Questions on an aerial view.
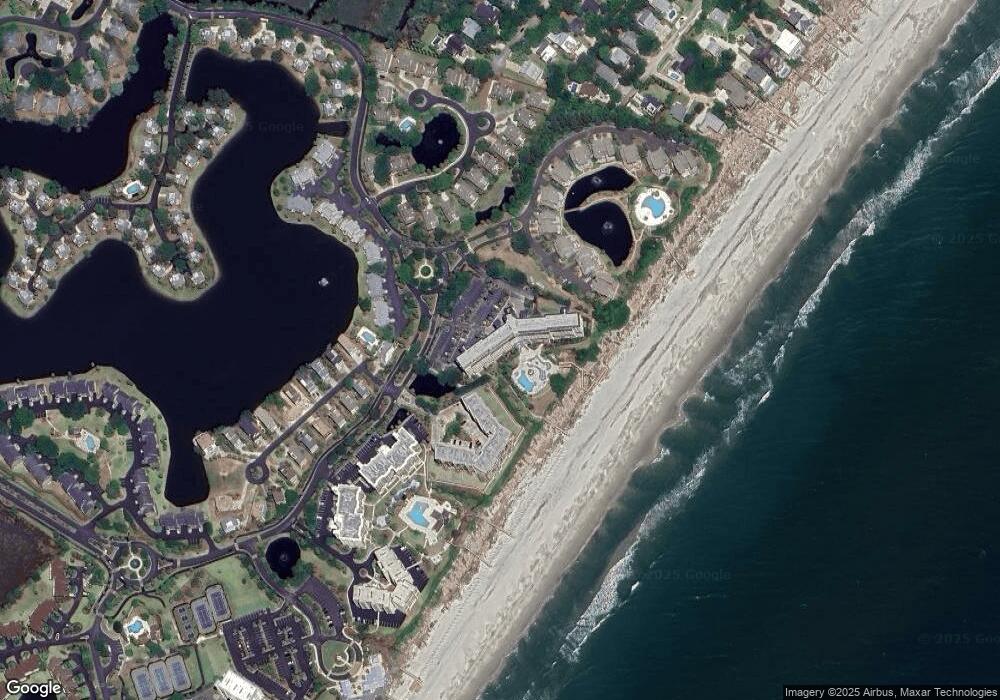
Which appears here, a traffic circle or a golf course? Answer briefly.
traffic circle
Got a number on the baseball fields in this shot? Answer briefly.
0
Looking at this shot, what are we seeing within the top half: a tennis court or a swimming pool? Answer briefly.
swimming pool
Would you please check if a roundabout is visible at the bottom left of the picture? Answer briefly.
Yes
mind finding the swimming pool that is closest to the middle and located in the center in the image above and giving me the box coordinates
[510,342,562,397]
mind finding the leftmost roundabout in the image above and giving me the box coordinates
[111,539,159,587]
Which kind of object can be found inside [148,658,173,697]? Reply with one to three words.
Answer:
tennis court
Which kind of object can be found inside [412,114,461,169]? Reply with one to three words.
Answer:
pond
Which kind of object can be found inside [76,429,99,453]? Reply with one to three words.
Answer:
swimming pool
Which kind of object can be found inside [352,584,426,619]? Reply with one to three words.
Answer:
building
